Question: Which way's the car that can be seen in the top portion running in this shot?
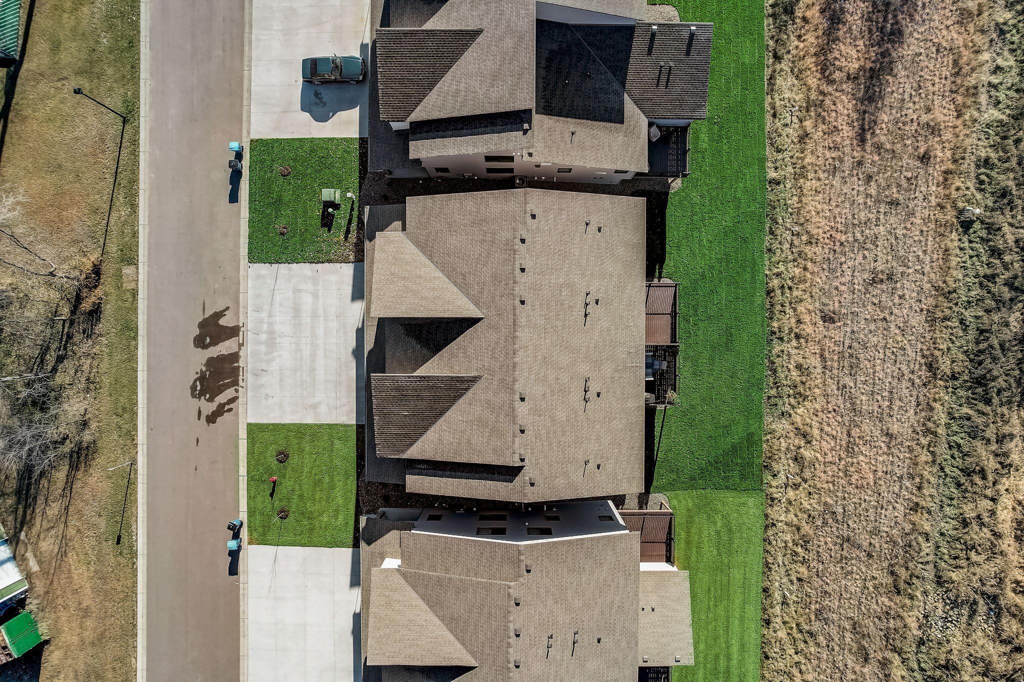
horizontally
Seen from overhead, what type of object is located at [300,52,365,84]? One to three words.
car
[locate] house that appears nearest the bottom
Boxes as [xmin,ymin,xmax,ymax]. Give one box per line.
[361,502,697,682]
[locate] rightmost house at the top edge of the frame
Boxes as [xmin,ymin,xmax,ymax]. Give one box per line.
[368,0,714,188]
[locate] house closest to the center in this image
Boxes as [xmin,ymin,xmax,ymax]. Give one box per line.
[365,188,683,503]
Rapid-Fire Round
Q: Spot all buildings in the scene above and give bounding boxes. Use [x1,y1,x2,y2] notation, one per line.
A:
[361,502,697,682]
[368,0,714,188]
[0,0,27,56]
[365,188,683,503]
